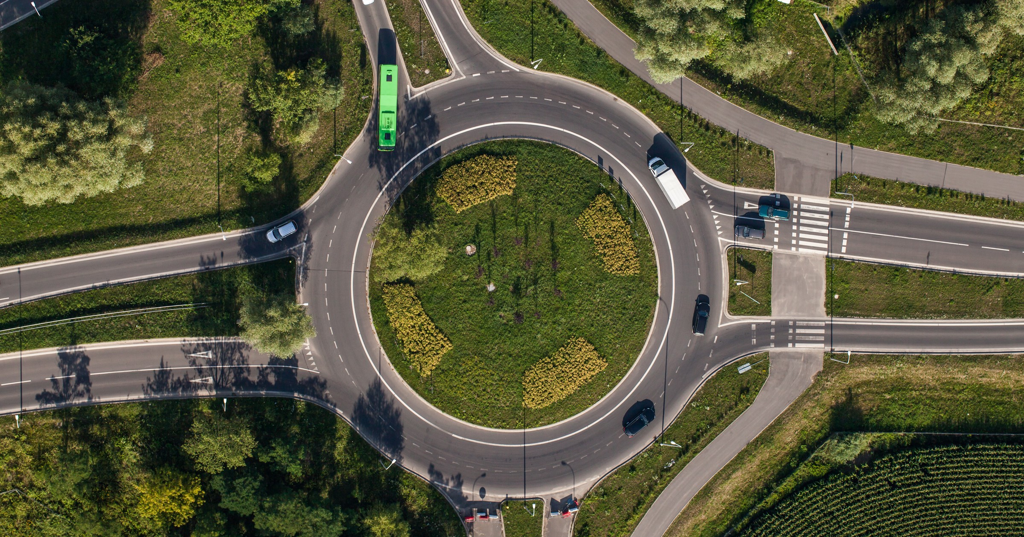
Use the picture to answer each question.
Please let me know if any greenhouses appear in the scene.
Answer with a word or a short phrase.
No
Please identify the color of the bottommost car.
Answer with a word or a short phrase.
black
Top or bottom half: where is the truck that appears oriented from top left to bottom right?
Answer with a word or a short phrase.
top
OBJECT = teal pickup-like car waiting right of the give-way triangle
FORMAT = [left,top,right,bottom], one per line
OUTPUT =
[758,203,791,219]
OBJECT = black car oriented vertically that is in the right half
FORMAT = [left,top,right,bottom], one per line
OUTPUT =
[693,301,711,336]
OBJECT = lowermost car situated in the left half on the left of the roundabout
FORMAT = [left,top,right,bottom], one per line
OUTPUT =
[265,220,299,243]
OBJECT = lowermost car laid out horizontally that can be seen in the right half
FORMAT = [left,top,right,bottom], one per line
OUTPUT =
[735,225,765,240]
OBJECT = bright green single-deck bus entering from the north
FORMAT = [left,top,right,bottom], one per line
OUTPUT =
[376,64,398,153]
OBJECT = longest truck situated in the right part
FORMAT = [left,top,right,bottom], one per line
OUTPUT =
[649,156,691,209]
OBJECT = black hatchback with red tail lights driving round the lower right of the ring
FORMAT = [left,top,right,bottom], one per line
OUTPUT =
[623,408,655,434]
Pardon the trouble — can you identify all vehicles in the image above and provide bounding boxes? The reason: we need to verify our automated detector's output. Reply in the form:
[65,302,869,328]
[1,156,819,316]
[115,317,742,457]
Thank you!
[376,64,398,153]
[649,156,691,209]
[693,301,711,336]
[623,408,655,434]
[265,220,299,243]
[735,225,765,240]
[758,203,791,219]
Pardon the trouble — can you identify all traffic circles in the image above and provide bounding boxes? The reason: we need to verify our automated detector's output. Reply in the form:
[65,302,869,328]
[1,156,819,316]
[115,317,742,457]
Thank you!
[302,72,725,496]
